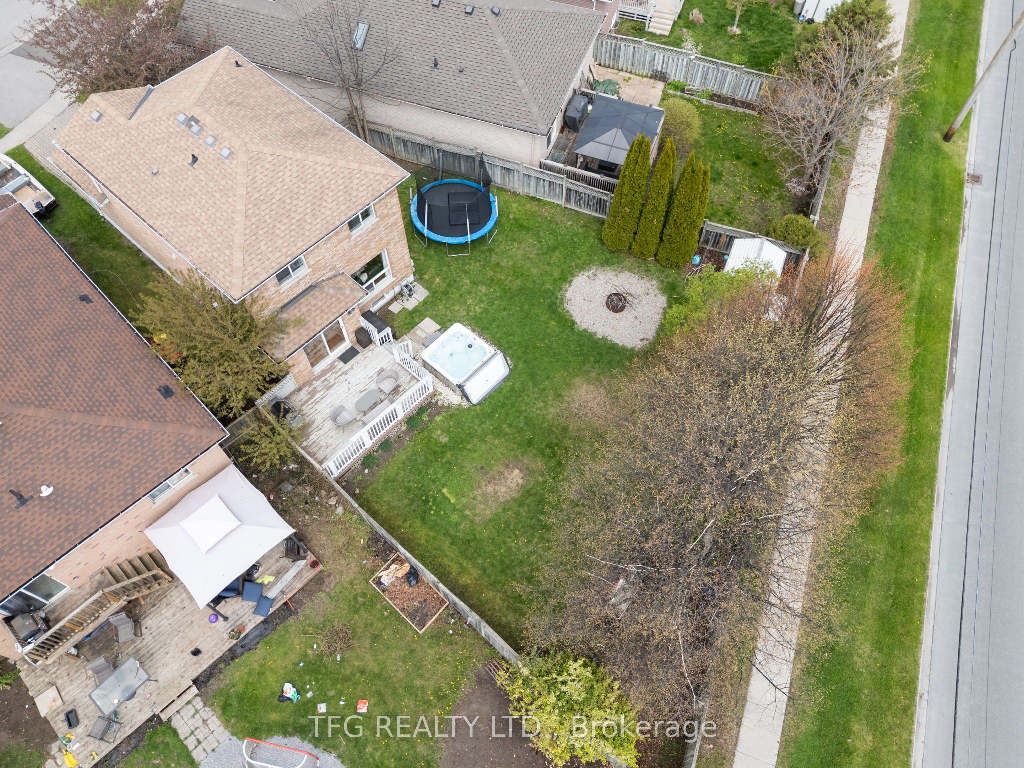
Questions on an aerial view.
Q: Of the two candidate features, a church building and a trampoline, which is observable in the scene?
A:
trampoline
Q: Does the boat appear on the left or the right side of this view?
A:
left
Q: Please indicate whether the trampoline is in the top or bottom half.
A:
top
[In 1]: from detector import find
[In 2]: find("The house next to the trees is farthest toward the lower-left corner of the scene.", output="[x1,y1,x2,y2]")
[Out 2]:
[0,205,246,660]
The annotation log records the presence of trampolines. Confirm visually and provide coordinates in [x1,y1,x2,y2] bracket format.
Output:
[407,155,497,257]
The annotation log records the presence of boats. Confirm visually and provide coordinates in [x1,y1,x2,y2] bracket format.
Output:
[0,164,61,222]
